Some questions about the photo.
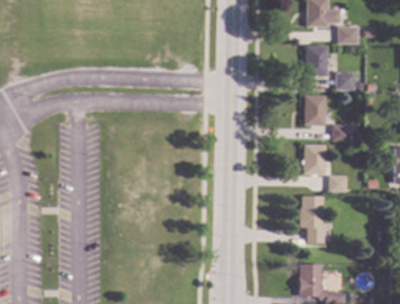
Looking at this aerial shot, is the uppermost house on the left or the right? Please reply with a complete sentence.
The uppermost house is on the right side of the image.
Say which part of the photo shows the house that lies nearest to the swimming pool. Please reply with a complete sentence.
The house that lies nearest to the swimming pool is located in the bottom right region of the scene.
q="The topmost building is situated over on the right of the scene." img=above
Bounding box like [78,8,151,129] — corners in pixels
[306,0,340,26]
